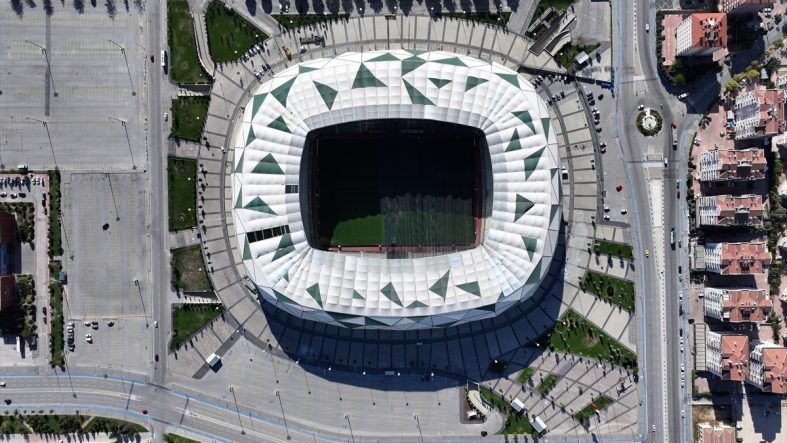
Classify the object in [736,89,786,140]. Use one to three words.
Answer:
building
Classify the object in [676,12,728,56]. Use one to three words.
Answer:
building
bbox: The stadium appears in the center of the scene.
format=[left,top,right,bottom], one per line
[231,48,562,330]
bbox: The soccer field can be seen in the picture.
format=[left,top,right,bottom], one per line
[318,136,479,251]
